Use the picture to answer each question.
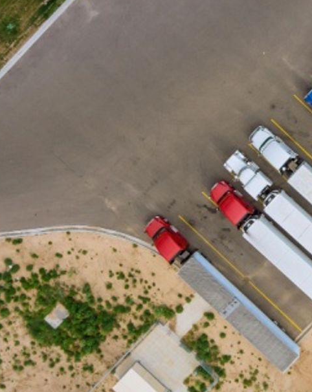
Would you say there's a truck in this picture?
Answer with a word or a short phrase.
Yes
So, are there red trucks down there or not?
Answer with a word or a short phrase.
Yes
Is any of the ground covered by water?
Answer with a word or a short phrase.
No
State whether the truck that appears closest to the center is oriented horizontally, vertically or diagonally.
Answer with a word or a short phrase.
diagonally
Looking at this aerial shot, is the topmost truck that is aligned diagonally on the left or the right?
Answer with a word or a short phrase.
right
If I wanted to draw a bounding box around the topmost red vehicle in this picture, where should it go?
[210,178,278,227]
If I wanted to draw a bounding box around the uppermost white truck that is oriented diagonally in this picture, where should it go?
[250,124,312,175]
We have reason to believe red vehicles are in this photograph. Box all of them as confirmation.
[147,215,215,263]
[210,178,278,227]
